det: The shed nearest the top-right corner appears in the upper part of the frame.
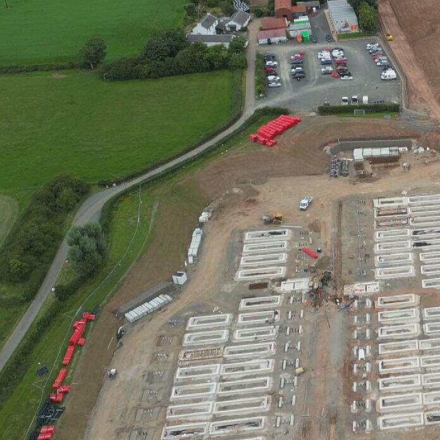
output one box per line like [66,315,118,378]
[327,0,358,32]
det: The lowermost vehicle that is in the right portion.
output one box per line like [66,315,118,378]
[304,269,336,286]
